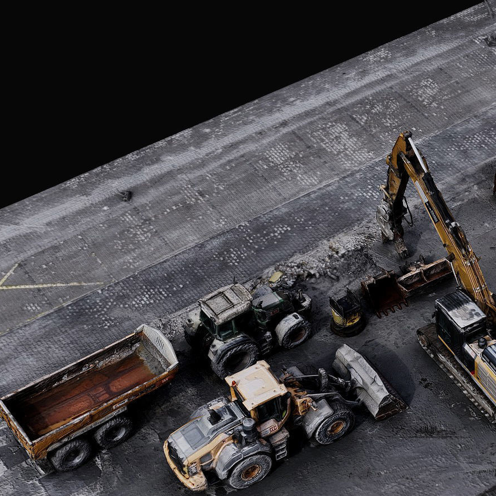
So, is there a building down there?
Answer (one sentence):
No, no building is visible in the view.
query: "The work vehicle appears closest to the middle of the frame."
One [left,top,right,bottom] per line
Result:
[189,280,318,378]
